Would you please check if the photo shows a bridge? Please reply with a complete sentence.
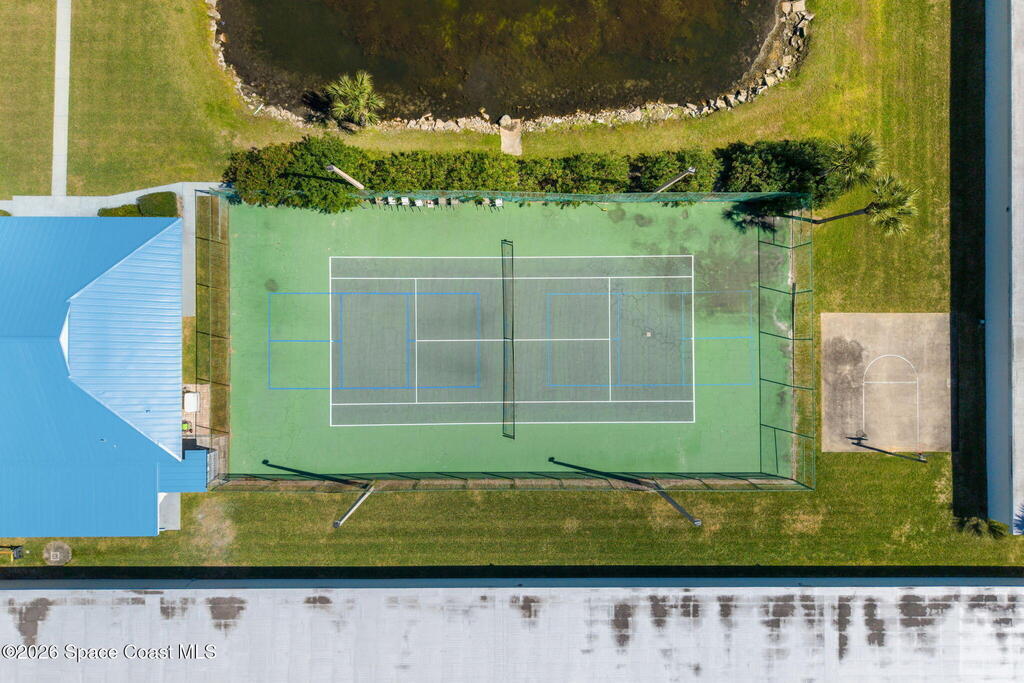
No, I find no bridge anywhere in the image.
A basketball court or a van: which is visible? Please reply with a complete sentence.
I can see a basketball court in this picture.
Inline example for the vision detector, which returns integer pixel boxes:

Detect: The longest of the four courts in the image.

[229,199,796,480]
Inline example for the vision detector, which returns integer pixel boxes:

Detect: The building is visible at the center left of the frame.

[0,216,216,536]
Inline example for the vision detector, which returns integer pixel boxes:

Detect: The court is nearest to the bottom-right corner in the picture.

[821,312,957,453]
